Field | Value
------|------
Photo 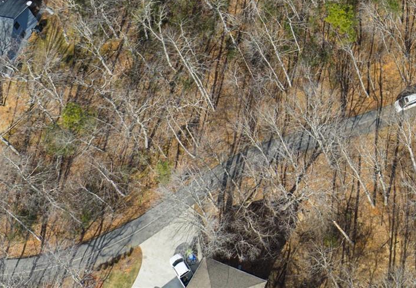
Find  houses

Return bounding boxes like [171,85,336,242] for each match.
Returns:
[0,0,50,71]
[187,257,267,288]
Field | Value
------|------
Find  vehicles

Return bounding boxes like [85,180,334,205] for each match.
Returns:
[167,251,193,288]
[396,92,416,111]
